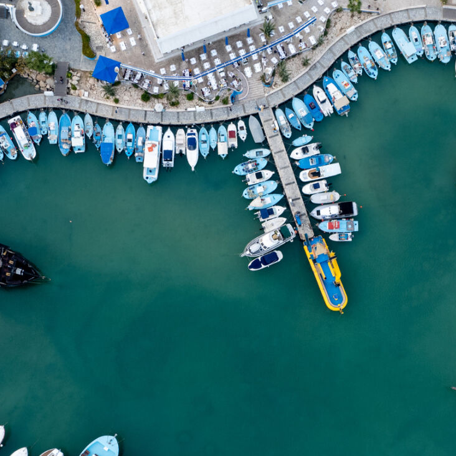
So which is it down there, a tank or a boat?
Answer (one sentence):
Visible in the photo is a boat.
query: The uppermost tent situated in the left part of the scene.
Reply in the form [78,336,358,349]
[101,7,129,37]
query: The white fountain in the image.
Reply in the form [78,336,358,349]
[11,0,64,39]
